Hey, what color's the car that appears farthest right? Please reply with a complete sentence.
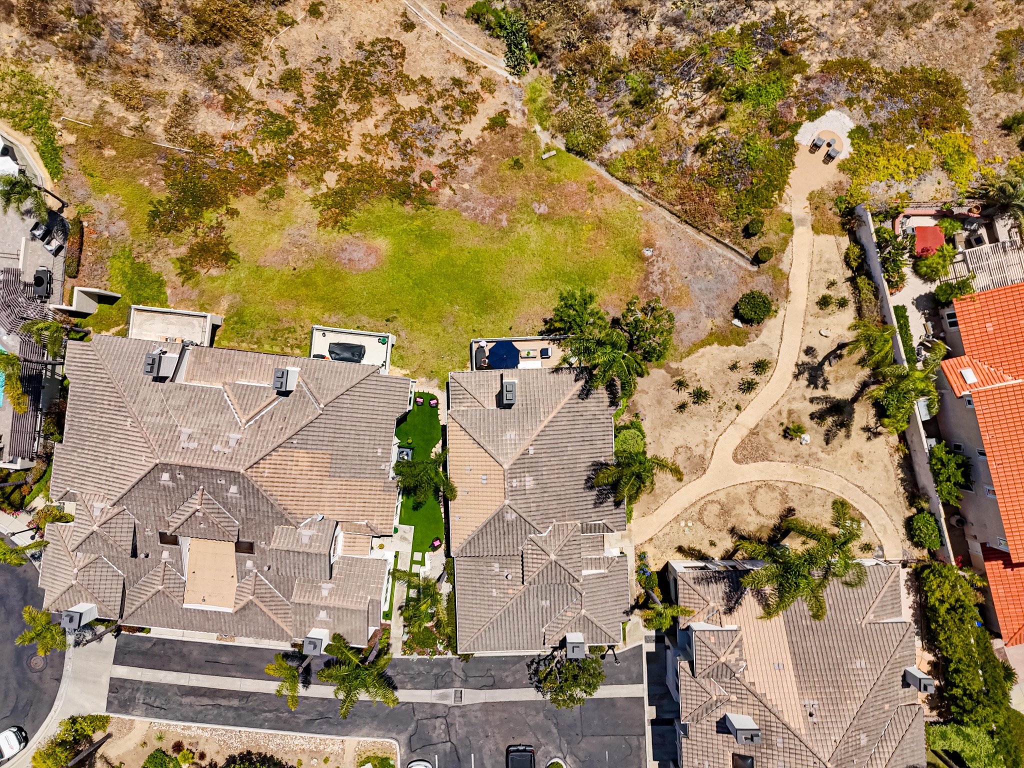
The car that appears farthest right looks black in the image.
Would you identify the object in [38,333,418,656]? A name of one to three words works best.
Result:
house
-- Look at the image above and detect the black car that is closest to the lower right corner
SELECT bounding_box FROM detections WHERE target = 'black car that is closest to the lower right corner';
[507,748,533,768]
